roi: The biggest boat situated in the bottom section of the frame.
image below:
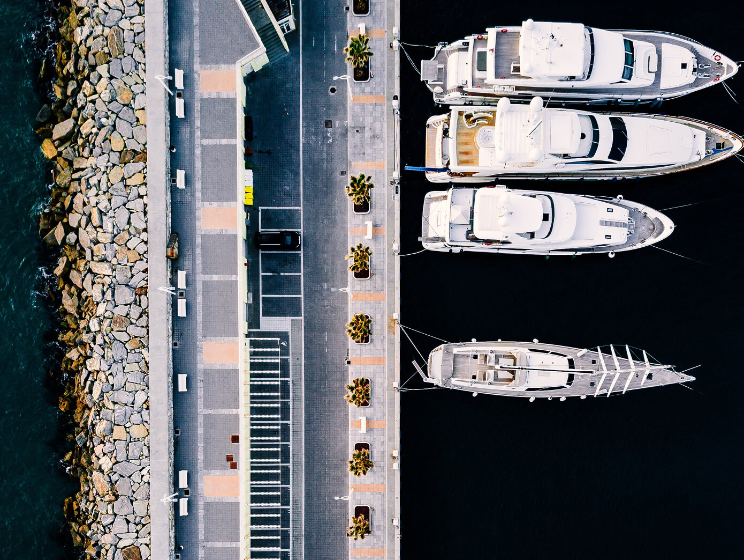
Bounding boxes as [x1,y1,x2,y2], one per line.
[427,342,696,397]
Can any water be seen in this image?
Yes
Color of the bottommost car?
black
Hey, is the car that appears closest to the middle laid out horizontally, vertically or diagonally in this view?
horizontally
